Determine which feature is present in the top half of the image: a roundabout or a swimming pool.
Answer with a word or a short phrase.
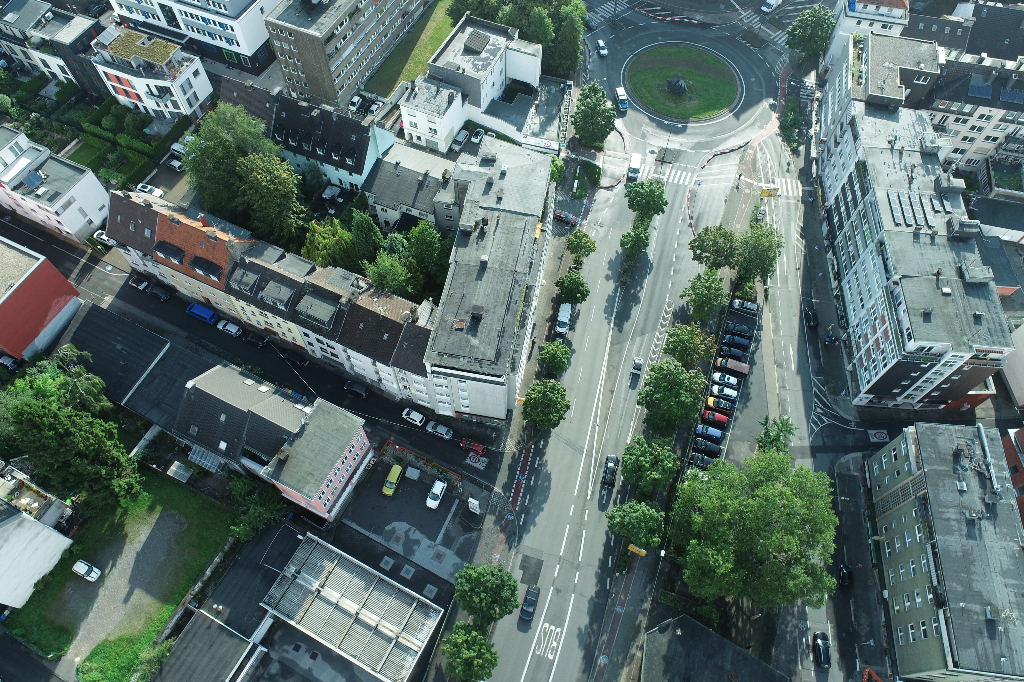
roundabout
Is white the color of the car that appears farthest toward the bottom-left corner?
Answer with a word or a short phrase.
Yes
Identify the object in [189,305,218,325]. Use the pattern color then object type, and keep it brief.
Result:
blue vehicle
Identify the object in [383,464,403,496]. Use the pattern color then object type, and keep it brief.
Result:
green car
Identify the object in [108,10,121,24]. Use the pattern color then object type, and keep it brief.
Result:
white vehicle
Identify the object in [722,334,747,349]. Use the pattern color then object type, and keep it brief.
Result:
blue car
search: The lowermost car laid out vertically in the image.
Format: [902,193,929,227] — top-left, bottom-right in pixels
[812,632,831,669]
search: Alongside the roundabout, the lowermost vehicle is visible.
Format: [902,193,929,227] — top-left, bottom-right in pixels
[628,149,643,177]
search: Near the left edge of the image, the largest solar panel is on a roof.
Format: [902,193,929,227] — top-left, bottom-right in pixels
[22,164,42,180]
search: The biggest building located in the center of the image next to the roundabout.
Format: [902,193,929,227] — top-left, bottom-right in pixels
[425,132,560,418]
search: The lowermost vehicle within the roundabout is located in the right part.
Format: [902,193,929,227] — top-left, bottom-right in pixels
[616,88,628,110]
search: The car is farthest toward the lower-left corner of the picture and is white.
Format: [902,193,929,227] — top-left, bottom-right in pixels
[71,561,103,581]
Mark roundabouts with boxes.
[589,23,777,154]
